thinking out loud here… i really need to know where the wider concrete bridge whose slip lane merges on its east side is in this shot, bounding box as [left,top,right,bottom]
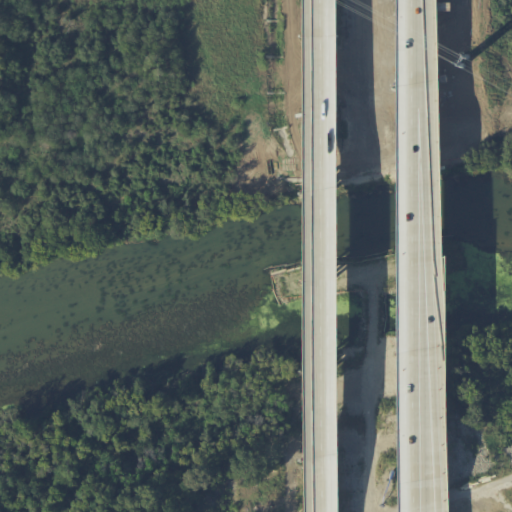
[394,0,452,512]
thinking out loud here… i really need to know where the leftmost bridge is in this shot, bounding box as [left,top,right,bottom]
[296,0,338,512]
